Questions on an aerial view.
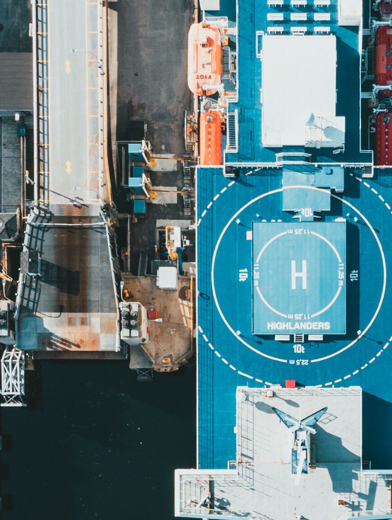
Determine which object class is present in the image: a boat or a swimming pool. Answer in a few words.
boat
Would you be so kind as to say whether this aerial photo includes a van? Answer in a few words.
No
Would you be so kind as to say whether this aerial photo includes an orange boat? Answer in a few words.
Yes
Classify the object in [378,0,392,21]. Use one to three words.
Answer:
boat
